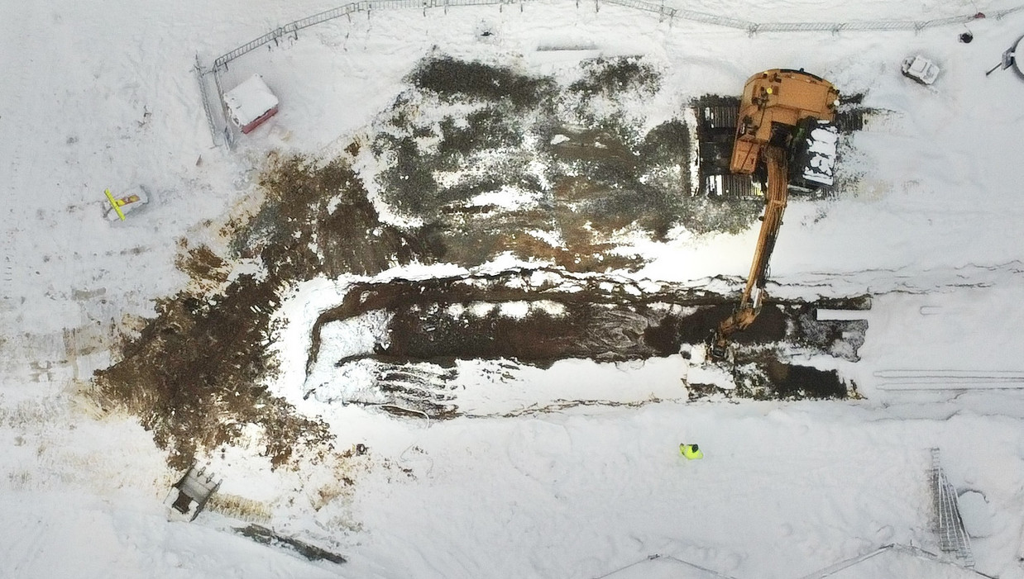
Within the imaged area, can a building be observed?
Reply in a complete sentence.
No, the scene contains no building.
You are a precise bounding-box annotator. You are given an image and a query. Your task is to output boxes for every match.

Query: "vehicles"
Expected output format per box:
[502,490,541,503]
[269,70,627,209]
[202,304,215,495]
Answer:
[695,68,840,363]
[898,56,939,87]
